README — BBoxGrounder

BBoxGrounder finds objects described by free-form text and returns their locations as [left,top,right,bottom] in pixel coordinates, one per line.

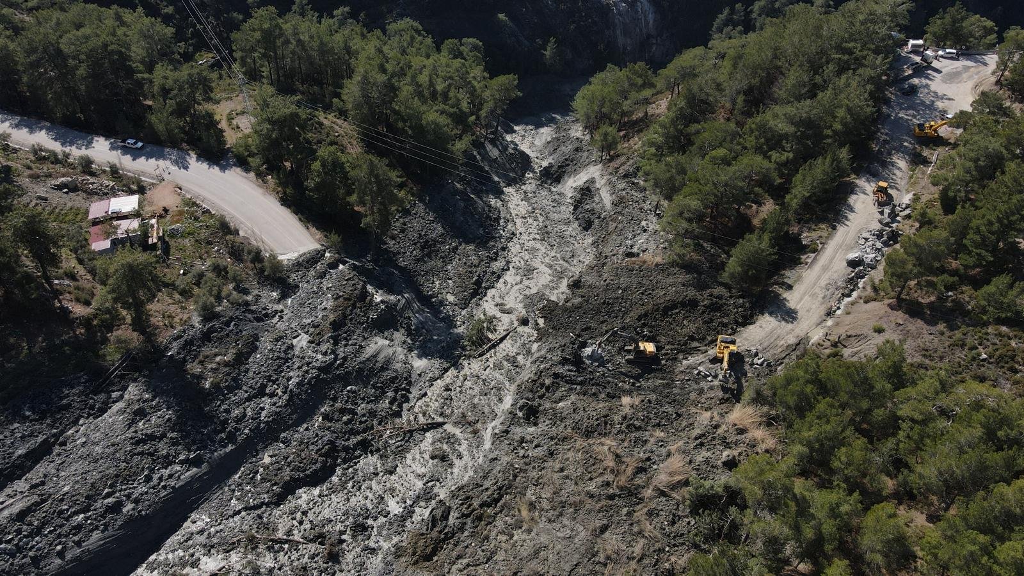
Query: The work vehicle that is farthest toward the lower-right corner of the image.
[717,330,740,378]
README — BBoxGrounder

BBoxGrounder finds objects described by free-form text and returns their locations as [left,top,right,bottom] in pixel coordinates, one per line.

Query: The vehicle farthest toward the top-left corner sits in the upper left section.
[118,136,145,148]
